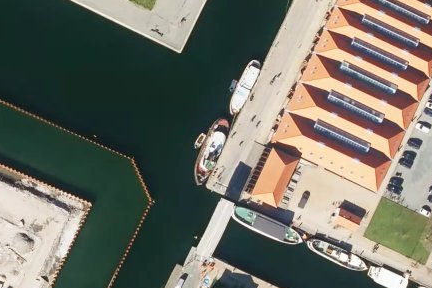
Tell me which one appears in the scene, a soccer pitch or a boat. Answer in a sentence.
The image shows a boat.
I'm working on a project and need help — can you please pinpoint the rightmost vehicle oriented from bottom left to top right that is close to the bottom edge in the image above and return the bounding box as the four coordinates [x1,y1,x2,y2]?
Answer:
[174,274,187,288]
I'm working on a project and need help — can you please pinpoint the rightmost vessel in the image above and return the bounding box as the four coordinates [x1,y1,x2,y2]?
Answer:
[369,266,408,288]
